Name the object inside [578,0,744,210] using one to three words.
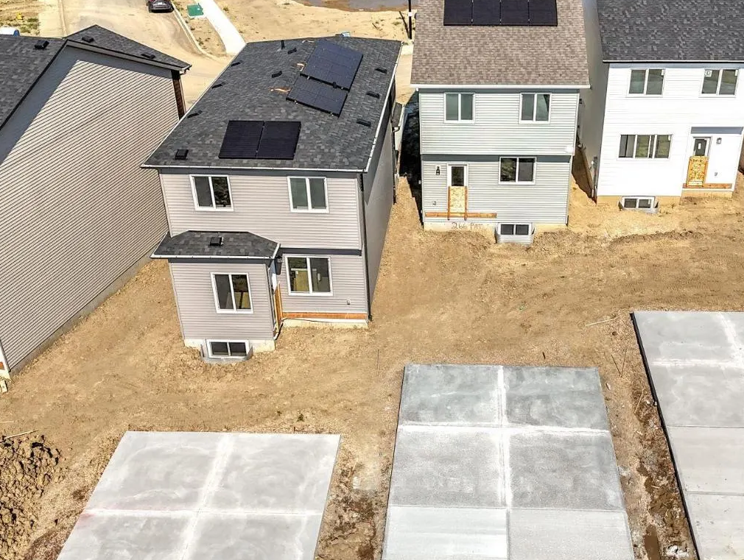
house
